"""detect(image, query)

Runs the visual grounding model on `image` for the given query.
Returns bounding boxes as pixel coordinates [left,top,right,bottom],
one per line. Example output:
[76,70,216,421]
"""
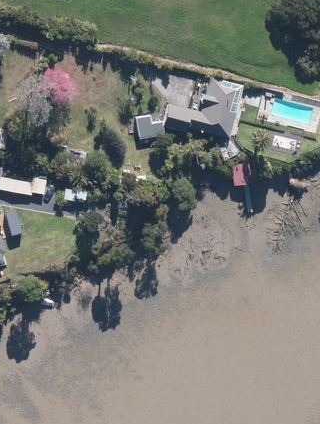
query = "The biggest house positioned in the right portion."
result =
[164,78,244,138]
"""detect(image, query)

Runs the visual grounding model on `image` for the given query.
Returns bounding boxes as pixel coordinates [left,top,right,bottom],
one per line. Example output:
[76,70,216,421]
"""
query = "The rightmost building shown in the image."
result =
[233,164,252,186]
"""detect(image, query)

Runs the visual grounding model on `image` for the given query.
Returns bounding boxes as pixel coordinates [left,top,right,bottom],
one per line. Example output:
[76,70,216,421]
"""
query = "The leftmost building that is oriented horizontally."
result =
[0,177,32,195]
